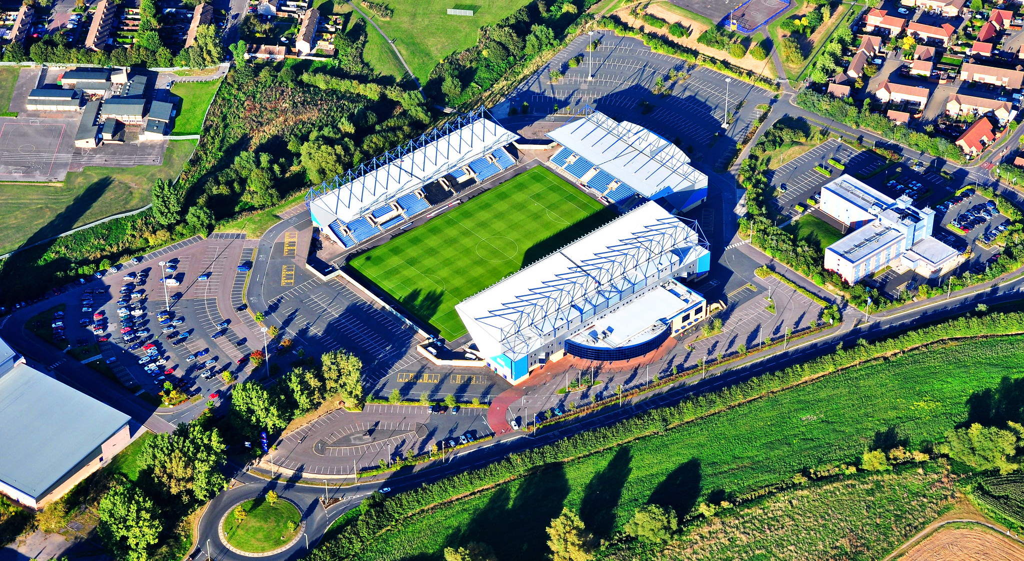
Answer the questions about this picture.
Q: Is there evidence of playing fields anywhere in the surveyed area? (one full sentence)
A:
Yes, there's a playing field down there.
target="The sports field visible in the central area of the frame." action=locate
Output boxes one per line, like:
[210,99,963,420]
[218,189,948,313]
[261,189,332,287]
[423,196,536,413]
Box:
[343,164,620,342]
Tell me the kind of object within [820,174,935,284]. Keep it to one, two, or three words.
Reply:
building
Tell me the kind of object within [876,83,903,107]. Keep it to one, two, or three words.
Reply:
house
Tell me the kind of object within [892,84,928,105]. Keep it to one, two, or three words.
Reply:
house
